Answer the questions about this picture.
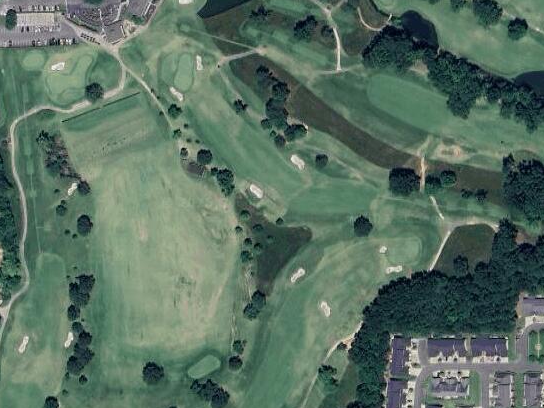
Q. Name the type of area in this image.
golf course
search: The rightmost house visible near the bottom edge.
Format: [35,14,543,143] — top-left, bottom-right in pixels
[523,374,543,408]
